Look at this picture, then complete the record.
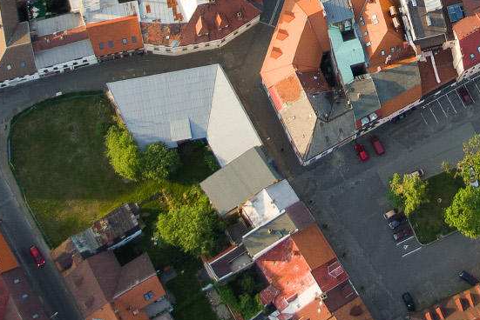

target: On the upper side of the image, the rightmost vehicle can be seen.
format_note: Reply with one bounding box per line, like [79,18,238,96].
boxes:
[457,86,473,108]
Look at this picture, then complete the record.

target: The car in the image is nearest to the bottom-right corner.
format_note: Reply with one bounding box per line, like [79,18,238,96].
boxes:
[457,270,479,287]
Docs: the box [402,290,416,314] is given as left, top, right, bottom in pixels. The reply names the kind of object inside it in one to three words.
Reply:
vehicle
